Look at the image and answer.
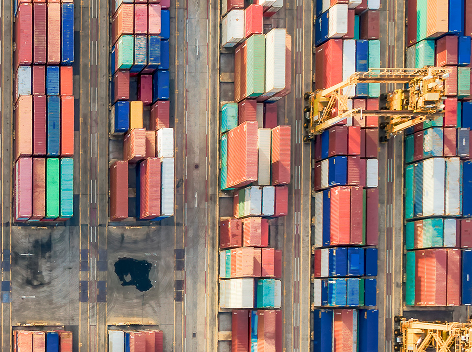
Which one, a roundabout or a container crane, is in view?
container crane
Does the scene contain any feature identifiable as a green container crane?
No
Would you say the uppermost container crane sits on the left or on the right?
right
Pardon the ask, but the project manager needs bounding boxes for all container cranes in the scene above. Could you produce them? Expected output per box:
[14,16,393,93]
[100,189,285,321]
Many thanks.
[303,76,444,142]
[394,316,472,352]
